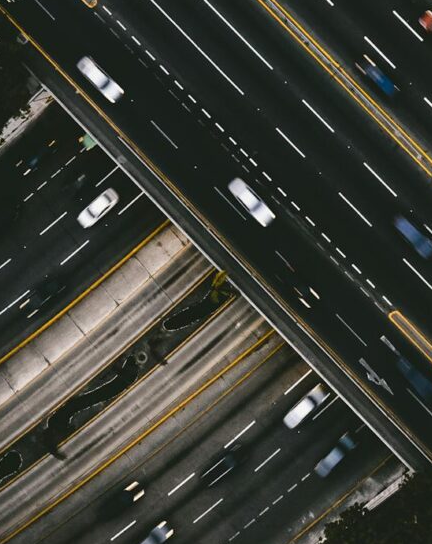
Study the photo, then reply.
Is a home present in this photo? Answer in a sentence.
No, there is no home in the image.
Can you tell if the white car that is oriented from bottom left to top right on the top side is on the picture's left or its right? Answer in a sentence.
You can find the white car that is oriented from bottom left to top right on the top side on the left side of the picture.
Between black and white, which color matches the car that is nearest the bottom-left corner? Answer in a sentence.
The car that is nearest the bottom-left corner looks black in the image.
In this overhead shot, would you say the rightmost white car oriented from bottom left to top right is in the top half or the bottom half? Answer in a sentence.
It is in the bottom half that the rightmost white car oriented from bottom left to top right appears.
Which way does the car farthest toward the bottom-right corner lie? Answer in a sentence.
I'd say the car farthest toward the bottom-right corner is aligned on a diagonal in the picture.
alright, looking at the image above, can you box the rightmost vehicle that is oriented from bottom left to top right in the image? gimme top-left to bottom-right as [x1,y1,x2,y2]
[312,434,359,477]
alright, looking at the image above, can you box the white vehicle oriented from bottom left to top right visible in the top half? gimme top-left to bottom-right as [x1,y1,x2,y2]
[75,186,122,227]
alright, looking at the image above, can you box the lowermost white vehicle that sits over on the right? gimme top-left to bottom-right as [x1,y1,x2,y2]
[284,384,329,425]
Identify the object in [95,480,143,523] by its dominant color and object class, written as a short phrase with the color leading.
black car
